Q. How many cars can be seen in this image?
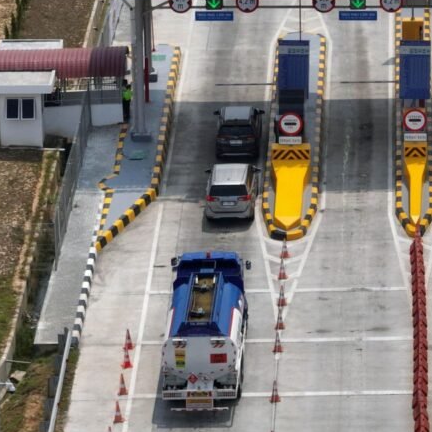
2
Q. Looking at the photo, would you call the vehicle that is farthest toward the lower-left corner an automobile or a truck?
truck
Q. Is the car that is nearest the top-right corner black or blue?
black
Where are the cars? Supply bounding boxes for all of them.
[203,159,261,219]
[212,104,267,159]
